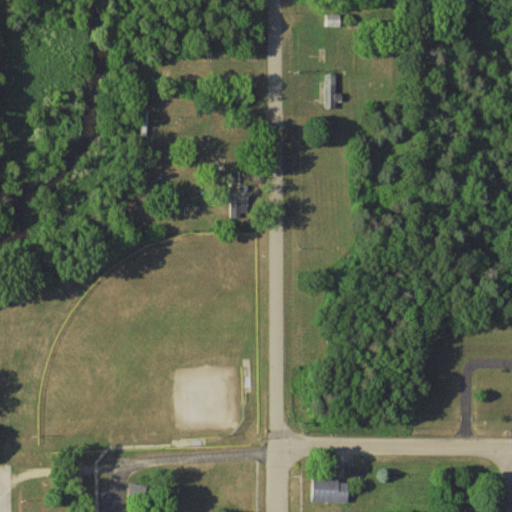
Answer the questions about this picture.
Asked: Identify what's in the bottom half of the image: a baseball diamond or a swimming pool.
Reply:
baseball diamond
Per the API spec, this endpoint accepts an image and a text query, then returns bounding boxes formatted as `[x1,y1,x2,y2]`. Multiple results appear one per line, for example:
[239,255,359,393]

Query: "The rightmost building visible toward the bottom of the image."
[312,480,348,503]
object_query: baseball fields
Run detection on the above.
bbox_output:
[38,233,258,446]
